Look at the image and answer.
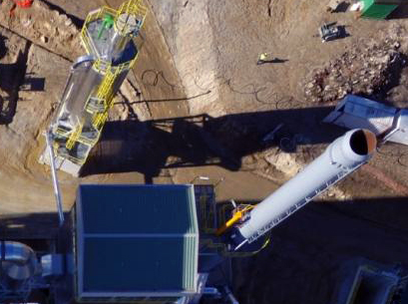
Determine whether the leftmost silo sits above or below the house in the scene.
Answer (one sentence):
In the image, the leftmost silo appears above the house.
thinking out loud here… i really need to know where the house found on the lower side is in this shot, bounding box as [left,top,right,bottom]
[33,184,207,304]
